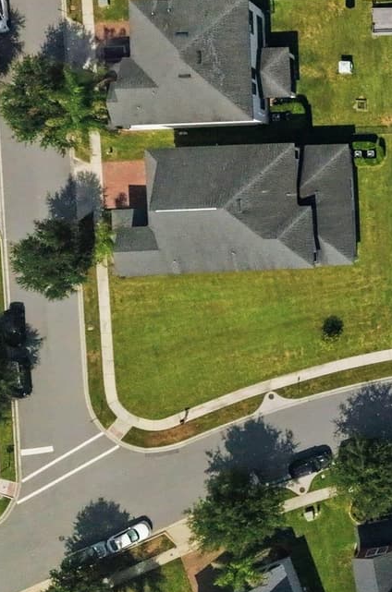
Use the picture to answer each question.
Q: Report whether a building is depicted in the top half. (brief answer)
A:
Yes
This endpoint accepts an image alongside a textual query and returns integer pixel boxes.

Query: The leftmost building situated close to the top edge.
[107,0,300,129]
